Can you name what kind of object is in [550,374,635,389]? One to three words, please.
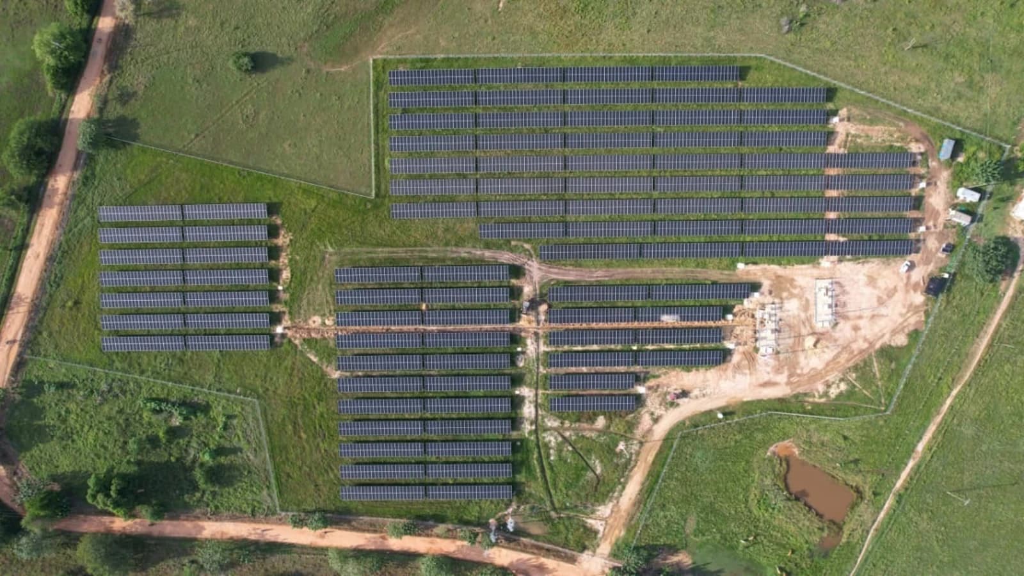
solar array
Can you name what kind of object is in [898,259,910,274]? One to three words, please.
vehicle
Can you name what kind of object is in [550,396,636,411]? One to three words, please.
solar array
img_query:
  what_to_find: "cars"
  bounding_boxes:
[898,259,910,274]
[941,272,949,286]
[941,242,952,255]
